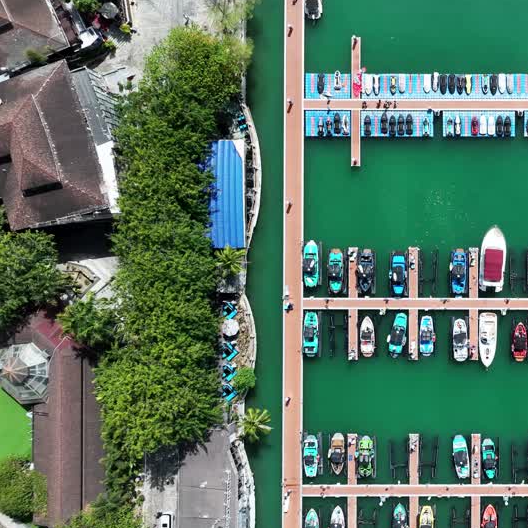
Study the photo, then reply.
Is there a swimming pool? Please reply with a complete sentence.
No, the scene contains no swimming pool.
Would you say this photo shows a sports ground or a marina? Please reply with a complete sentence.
This looks like a marina.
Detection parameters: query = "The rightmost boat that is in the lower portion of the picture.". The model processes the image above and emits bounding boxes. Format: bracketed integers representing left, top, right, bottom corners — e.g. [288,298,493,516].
[511,323,528,361]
